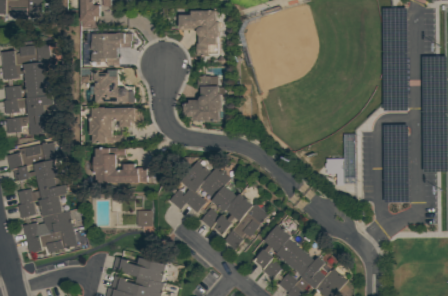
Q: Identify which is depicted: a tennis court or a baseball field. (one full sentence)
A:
Looking from above, you can make out a baseball field.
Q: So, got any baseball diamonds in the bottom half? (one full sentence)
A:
No, looking in the bottom half, there is no baseball diamond.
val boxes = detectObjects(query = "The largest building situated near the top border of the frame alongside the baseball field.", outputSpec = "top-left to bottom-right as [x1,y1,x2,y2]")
[178,10,220,55]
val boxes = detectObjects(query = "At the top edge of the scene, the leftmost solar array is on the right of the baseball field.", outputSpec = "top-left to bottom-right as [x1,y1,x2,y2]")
[382,8,408,110]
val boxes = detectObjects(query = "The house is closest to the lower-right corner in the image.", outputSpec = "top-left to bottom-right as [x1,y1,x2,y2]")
[318,272,345,296]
